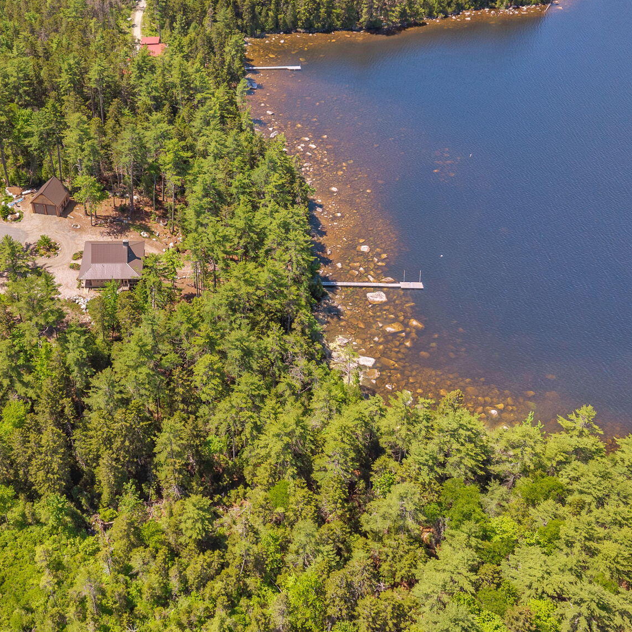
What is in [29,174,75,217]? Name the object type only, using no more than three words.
building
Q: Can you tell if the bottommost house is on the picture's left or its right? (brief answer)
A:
left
